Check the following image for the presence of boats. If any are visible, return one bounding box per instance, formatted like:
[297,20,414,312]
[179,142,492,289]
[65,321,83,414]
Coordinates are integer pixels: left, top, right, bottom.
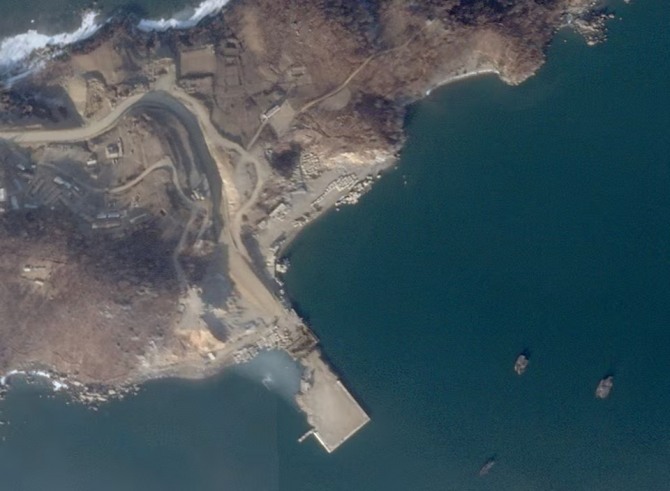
[594,379,606,399]
[520,354,529,371]
[601,376,613,396]
[512,356,522,374]
[478,459,493,476]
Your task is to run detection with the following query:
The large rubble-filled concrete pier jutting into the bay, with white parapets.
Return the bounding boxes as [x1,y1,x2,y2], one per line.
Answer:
[295,348,370,452]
